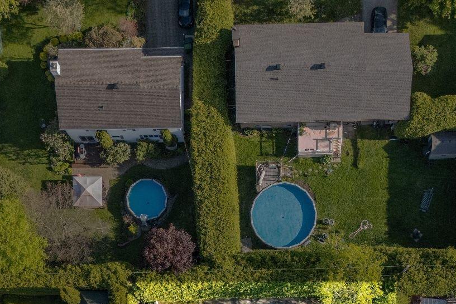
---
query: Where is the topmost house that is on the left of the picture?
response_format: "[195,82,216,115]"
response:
[48,47,184,141]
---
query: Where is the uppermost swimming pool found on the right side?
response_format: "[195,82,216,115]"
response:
[250,183,317,250]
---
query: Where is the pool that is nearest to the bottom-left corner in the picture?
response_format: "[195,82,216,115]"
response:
[126,178,168,226]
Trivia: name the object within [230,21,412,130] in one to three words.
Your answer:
house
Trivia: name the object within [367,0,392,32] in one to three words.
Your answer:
car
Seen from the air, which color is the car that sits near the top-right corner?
black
